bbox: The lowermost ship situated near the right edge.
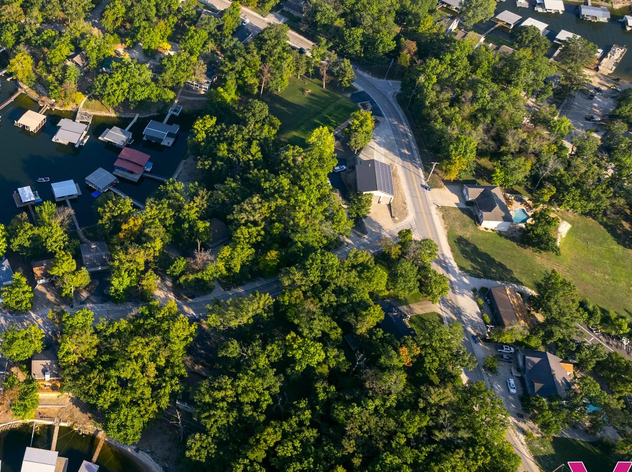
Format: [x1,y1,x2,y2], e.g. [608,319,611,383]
[596,45,626,76]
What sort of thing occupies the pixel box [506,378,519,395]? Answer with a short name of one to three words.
vehicle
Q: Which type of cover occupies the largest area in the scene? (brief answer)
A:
trees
